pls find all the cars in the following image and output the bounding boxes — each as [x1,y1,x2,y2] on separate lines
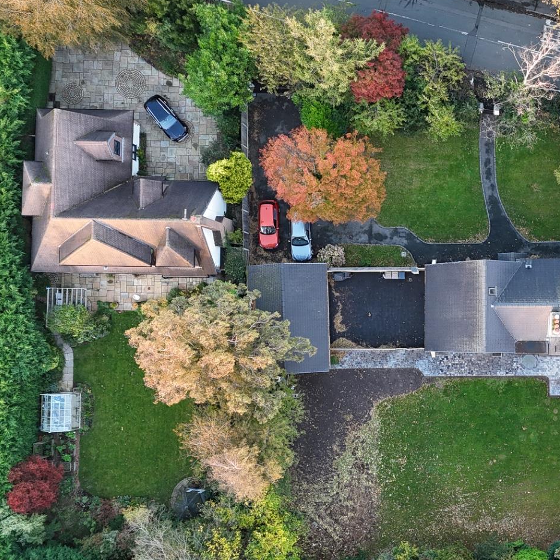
[288,210,314,261]
[141,91,191,145]
[254,200,281,247]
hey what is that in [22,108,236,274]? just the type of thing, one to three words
house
